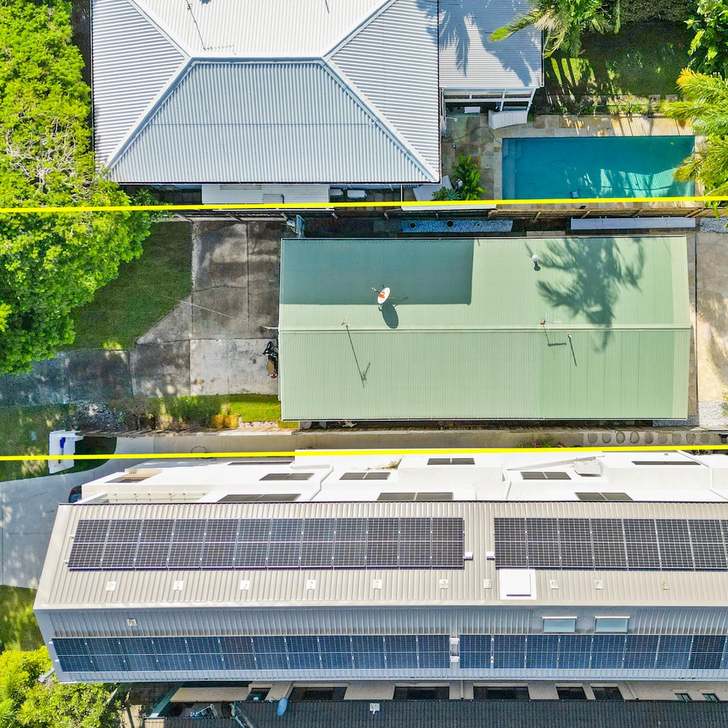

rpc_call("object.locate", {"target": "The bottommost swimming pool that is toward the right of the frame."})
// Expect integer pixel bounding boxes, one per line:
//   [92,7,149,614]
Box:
[502,137,695,200]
